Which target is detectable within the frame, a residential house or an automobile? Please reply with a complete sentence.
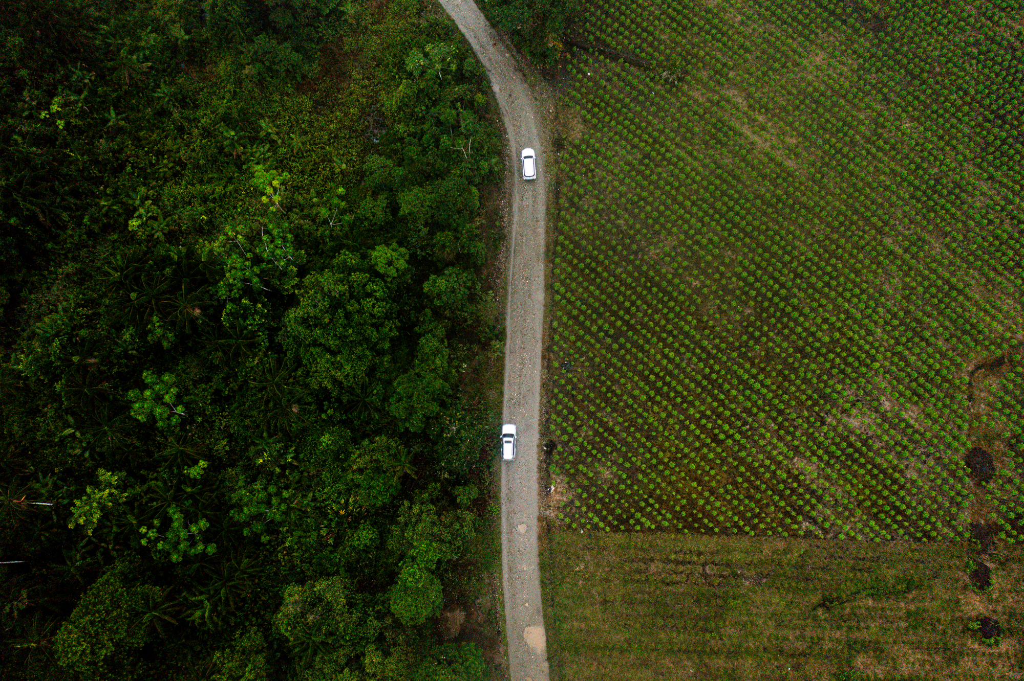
Looking from above, you can make out an automobile.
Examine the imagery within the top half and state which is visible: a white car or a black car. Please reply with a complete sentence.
It is a white car that can be seen within the top half.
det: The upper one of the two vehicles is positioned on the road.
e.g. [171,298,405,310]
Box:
[521,148,537,181]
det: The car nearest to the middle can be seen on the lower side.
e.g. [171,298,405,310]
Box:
[501,424,517,461]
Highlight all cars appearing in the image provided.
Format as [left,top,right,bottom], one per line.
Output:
[521,148,537,181]
[501,424,517,461]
